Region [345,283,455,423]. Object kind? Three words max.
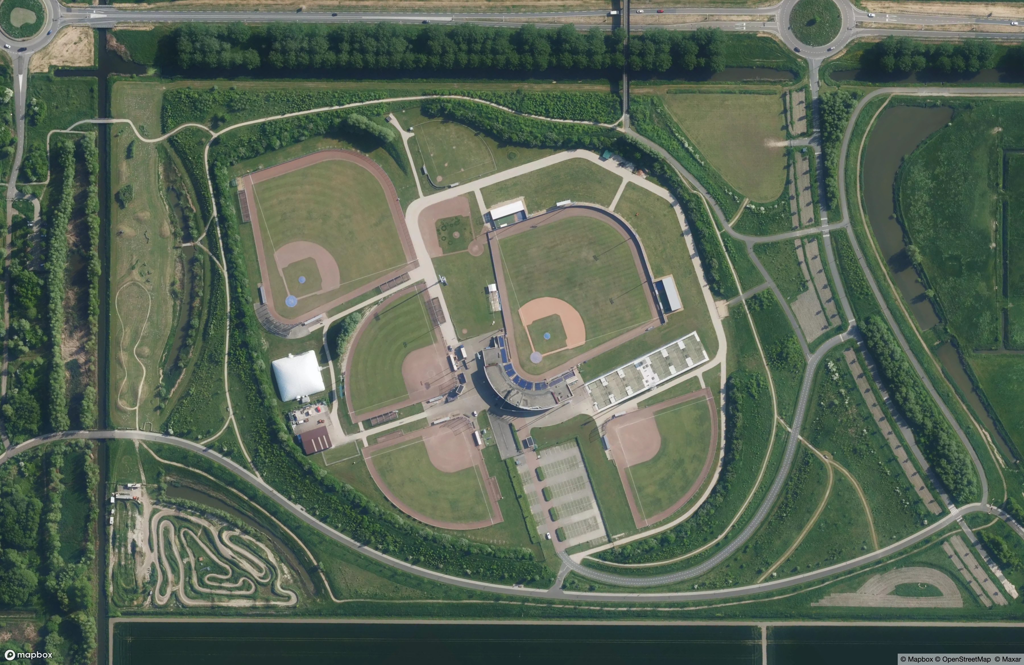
baseball field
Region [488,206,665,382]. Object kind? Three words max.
baseball field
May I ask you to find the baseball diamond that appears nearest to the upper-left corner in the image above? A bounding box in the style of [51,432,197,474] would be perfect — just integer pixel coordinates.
[244,149,419,324]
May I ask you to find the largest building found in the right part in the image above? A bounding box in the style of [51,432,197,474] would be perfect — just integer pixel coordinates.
[585,331,709,411]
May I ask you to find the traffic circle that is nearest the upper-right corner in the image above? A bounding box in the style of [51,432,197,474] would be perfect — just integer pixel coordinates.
[777,0,854,58]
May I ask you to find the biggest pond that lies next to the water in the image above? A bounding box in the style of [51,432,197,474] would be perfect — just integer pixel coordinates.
[864,105,953,330]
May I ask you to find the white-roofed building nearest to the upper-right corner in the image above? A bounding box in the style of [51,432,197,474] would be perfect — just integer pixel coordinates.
[654,277,681,314]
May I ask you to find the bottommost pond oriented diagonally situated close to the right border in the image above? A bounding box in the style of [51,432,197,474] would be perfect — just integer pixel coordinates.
[939,343,1013,460]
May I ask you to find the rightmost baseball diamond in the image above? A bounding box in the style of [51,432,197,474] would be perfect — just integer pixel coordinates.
[606,387,718,529]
